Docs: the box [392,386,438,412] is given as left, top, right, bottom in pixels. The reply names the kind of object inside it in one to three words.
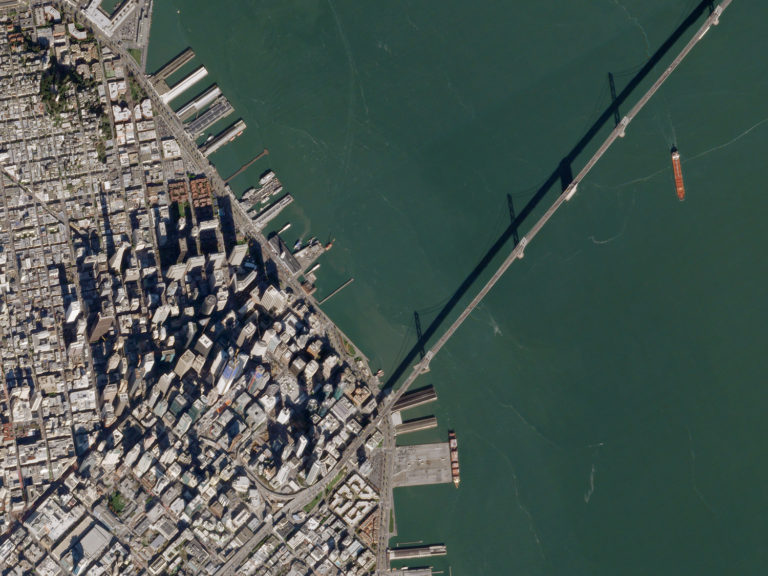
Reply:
pier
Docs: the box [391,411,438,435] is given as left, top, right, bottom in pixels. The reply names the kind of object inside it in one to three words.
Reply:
pier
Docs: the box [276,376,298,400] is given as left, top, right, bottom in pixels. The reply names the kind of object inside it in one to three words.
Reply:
building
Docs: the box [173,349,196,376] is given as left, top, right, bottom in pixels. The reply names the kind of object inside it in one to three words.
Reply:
building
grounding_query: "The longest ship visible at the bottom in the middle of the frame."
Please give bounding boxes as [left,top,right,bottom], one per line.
[448,431,460,488]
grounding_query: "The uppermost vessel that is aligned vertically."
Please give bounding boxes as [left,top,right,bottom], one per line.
[672,150,685,201]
